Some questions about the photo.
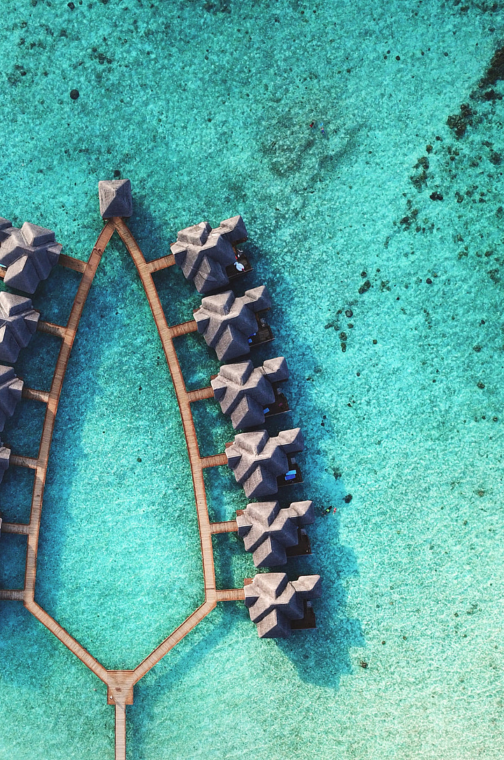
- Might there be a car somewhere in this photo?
No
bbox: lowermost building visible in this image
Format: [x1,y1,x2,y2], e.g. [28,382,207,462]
[238,571,320,635]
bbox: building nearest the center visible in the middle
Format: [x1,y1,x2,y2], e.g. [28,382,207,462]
[202,356,289,425]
